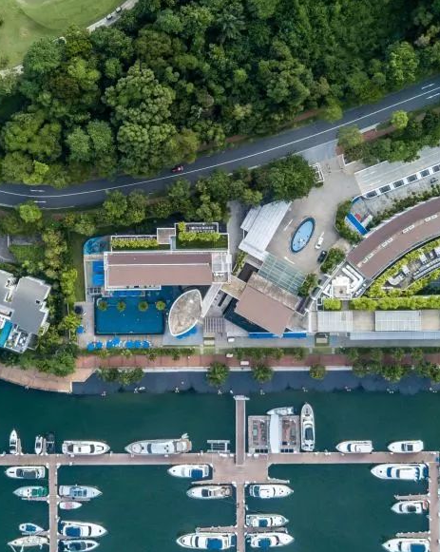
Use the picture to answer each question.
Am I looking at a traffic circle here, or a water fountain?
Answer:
water fountain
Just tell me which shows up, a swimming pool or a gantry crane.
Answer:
swimming pool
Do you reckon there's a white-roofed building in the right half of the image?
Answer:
Yes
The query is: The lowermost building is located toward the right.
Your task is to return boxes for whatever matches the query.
[248,413,300,454]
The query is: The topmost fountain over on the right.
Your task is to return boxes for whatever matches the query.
[291,218,315,251]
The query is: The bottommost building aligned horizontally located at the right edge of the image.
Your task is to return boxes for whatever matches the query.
[310,310,440,339]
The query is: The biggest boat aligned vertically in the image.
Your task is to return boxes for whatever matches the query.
[301,403,315,453]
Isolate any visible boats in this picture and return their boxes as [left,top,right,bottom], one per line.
[60,440,108,455]
[35,433,42,454]
[392,501,429,515]
[169,465,211,479]
[58,485,103,499]
[8,537,50,552]
[176,533,237,552]
[187,485,234,500]
[13,486,49,499]
[247,484,294,500]
[58,521,107,540]
[126,439,194,457]
[246,514,290,531]
[246,532,294,549]
[337,439,374,454]
[388,440,424,453]
[17,524,43,534]
[9,429,18,454]
[372,464,429,483]
[267,407,296,416]
[384,537,429,552]
[58,501,81,510]
[301,403,315,453]
[5,466,48,480]
[46,431,55,454]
